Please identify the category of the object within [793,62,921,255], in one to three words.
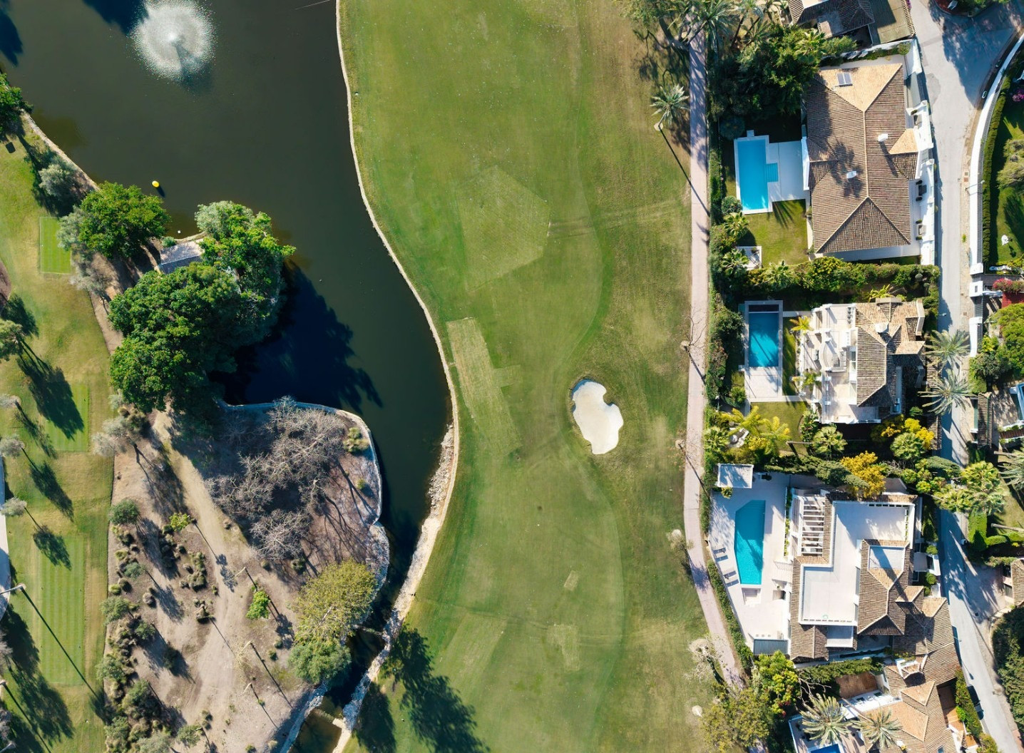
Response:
house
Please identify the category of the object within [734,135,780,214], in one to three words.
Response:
swimming pool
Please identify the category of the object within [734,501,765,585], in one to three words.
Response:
swimming pool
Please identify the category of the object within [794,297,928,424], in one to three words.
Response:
house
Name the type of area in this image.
golf course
